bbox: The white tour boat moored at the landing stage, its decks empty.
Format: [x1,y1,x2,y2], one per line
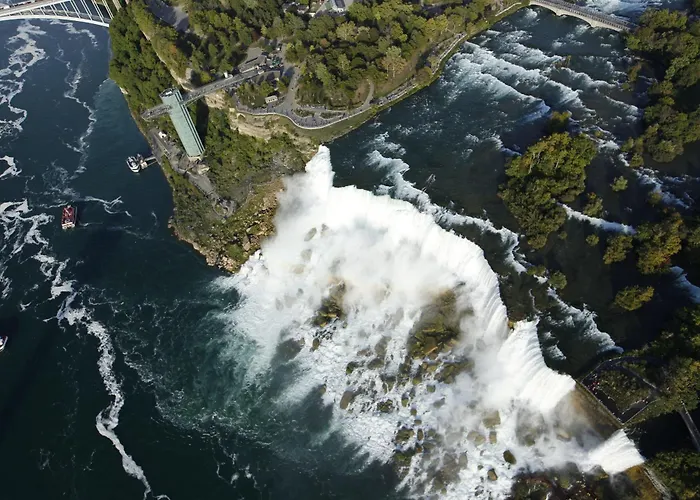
[124,155,141,173]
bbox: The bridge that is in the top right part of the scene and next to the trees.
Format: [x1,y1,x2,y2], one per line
[516,0,654,44]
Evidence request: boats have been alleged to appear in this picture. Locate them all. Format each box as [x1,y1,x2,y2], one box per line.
[0,333,11,350]
[61,205,77,228]
[124,155,141,173]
